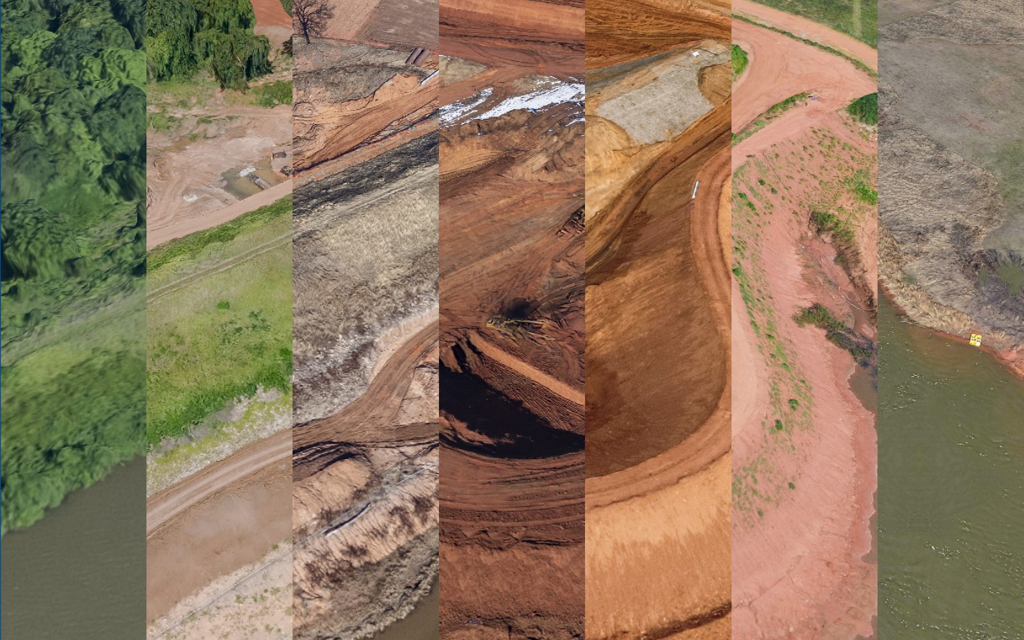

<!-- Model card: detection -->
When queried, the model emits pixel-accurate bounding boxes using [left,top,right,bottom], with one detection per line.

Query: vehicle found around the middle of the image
[485,315,545,331]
